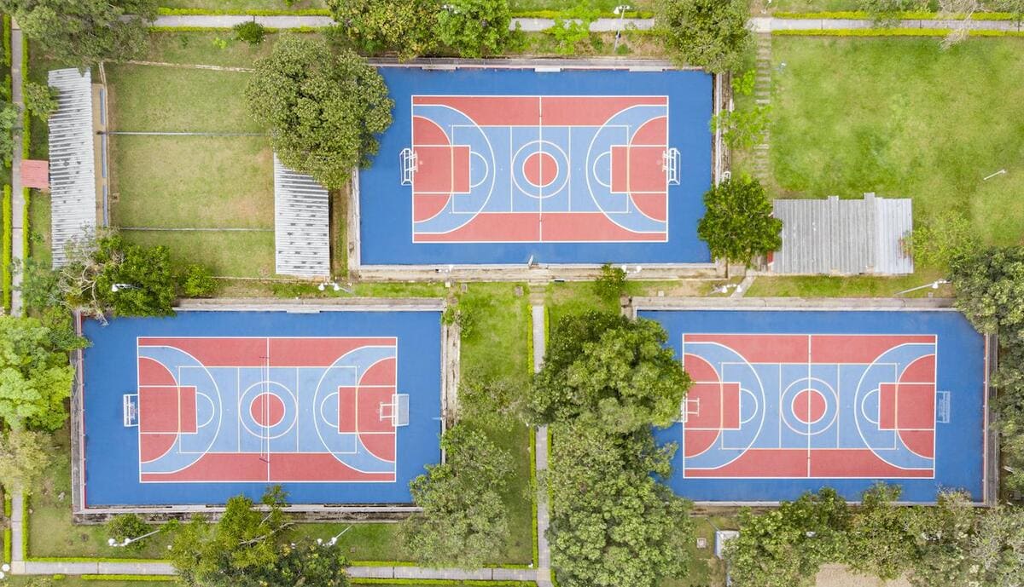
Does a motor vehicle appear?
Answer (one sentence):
No, I find no motor vehicle anywhere in the image.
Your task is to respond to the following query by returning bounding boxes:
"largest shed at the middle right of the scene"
[762,192,912,277]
